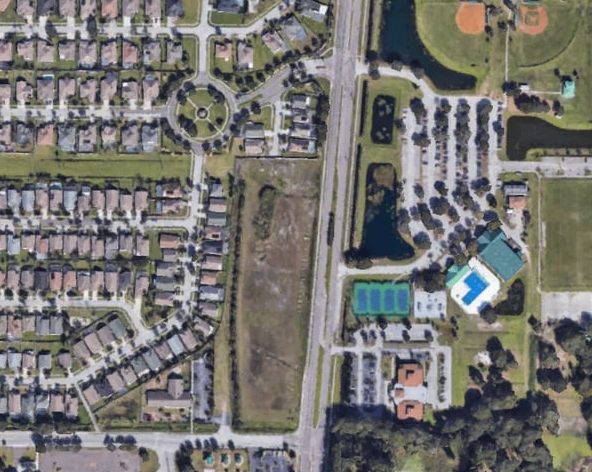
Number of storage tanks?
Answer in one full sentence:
The photo contains no storage tanks.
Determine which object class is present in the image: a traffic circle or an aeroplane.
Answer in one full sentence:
Looking from above, you can make out a traffic circle.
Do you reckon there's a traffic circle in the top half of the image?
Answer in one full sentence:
Yes, the scene does show a traffic circle in the top half of the image.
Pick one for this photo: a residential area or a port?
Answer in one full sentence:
The picture captures a residential area.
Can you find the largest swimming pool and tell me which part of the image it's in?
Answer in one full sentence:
You can find the largest swimming pool in the right area of the picture.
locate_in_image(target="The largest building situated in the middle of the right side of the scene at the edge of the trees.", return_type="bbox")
[480,228,526,283]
